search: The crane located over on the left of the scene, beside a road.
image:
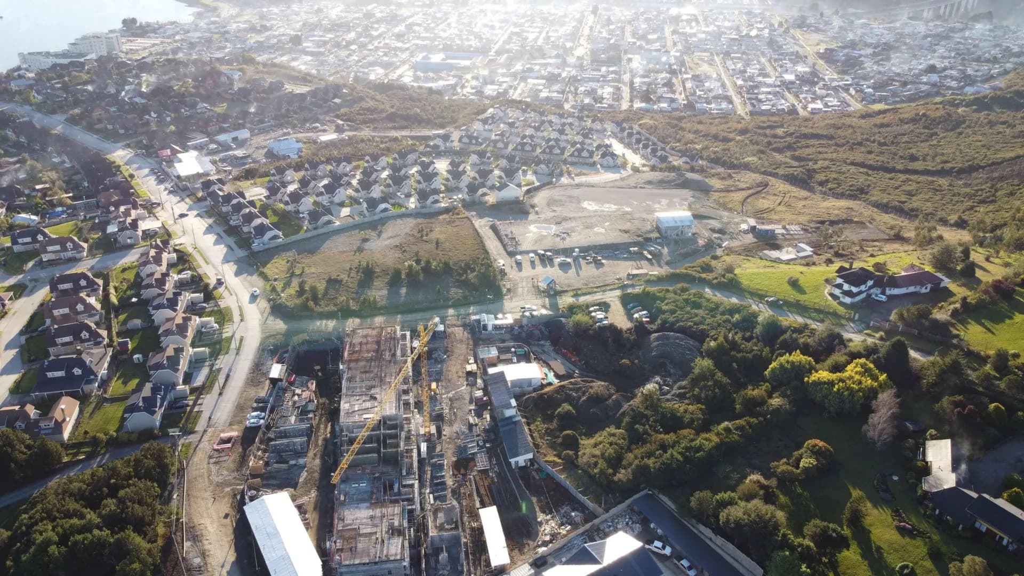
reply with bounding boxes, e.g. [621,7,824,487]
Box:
[331,320,443,487]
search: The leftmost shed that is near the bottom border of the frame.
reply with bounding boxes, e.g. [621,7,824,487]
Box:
[243,487,340,576]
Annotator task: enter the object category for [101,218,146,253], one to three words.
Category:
house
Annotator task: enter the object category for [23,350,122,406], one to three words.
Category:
house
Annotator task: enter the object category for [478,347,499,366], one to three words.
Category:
shed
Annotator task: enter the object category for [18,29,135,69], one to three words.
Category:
building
